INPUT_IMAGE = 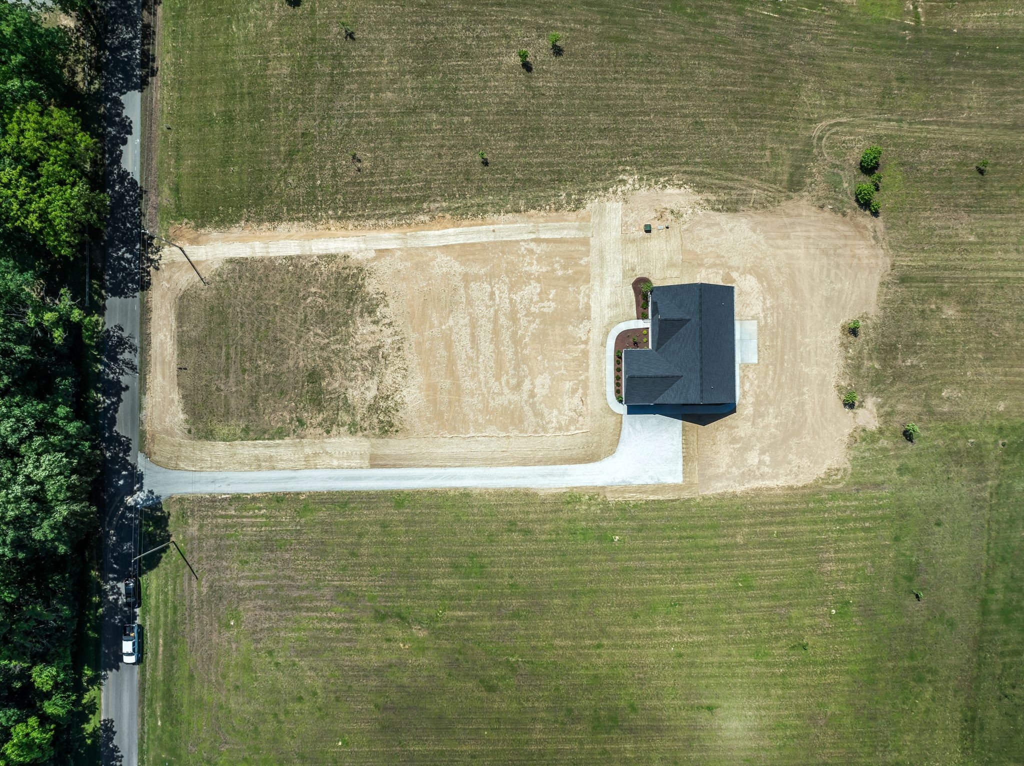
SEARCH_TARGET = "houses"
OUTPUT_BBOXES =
[623,283,736,405]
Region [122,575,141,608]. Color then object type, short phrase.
black car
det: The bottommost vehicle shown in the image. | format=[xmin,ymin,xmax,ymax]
[121,623,142,666]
